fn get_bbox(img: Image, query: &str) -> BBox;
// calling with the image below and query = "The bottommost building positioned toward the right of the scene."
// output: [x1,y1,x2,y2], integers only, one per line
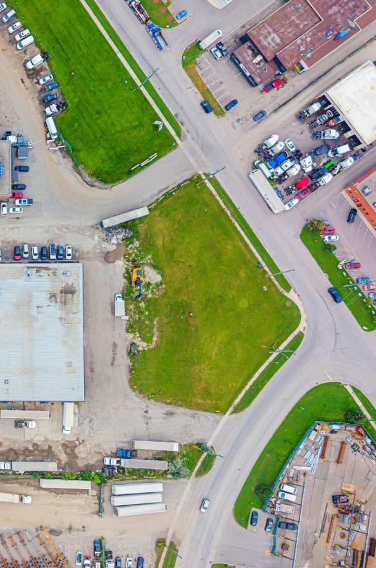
[341,166,376,249]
